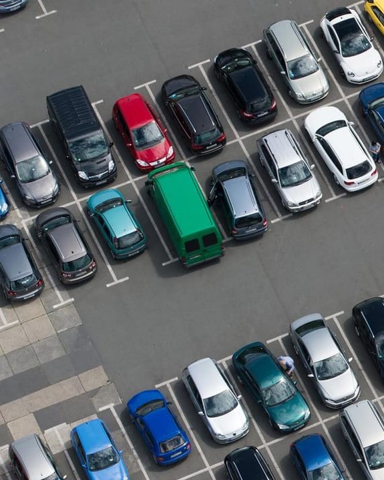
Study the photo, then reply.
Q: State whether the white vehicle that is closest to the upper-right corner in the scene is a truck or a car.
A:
car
